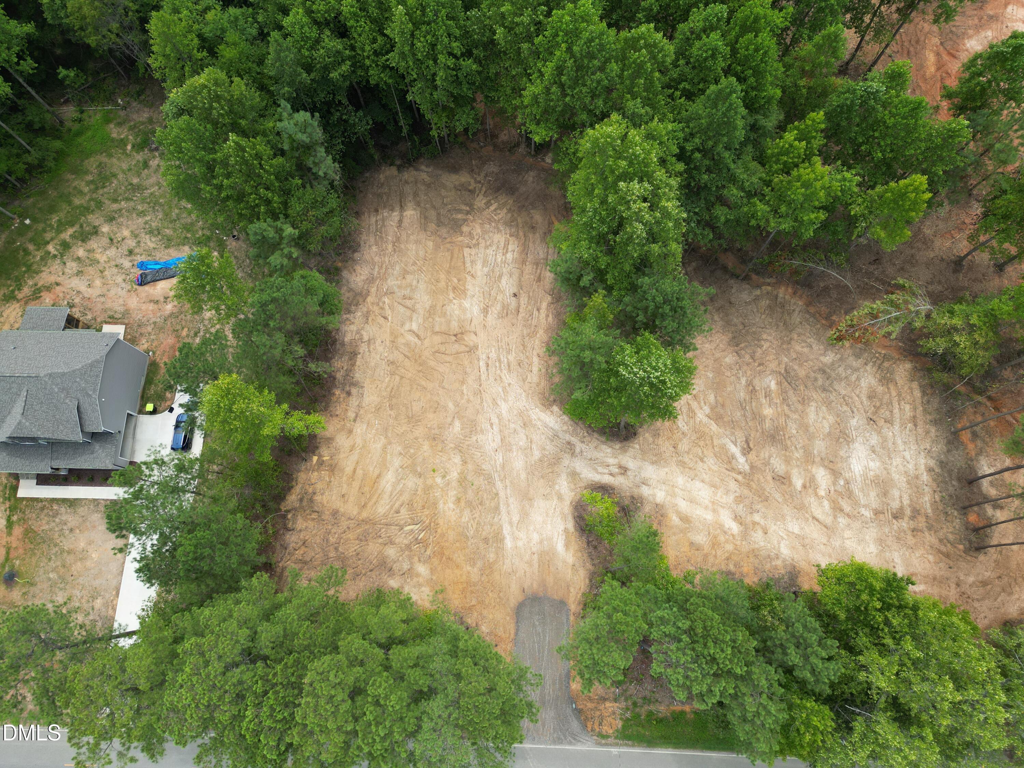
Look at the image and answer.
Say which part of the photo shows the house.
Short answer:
left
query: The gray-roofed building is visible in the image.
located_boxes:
[0,306,150,479]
